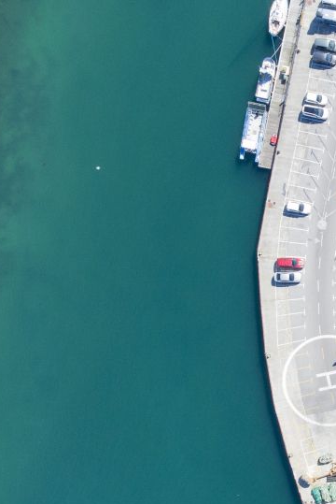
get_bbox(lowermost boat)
[240,100,267,163]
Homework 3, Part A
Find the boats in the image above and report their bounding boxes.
[255,57,276,105]
[240,100,267,163]
[268,0,291,39]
